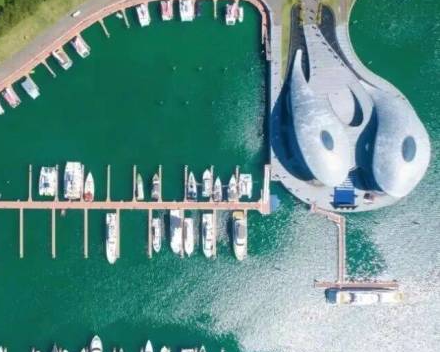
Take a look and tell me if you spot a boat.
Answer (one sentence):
Yes, there's a boat here.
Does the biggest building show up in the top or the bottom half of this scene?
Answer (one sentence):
It is in the top half that the biggest building appears.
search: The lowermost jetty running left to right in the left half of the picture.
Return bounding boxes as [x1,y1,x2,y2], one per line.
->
[0,163,270,259]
